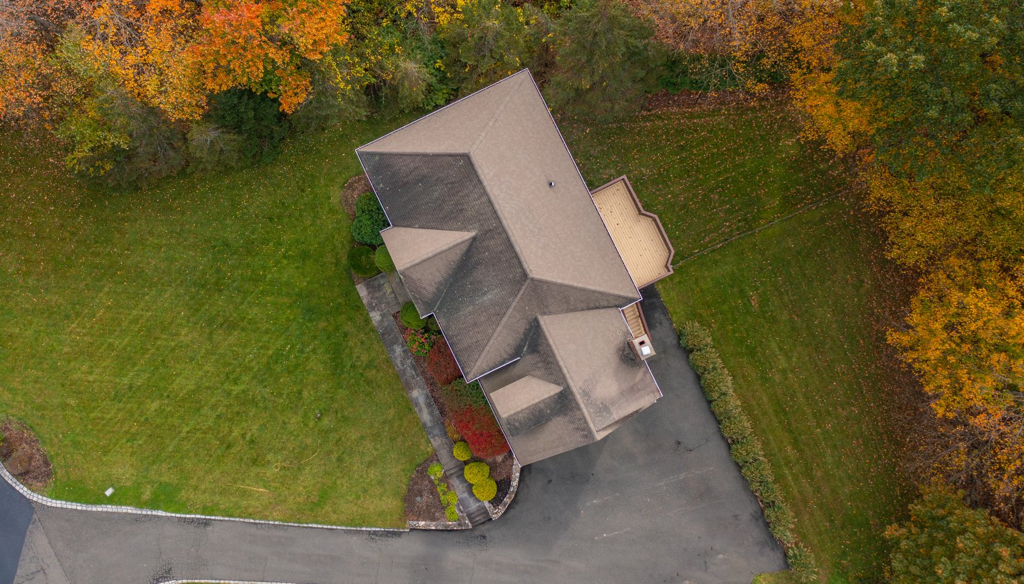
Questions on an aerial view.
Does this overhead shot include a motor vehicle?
No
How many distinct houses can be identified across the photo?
1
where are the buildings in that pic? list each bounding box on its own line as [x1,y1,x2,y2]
[354,66,663,466]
